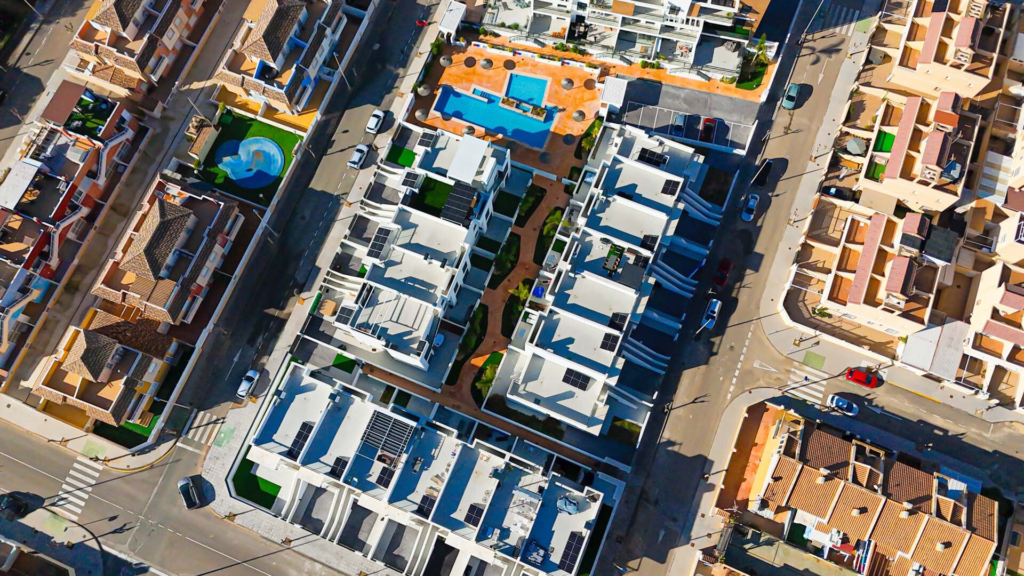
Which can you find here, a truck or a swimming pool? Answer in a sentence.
Looking from above, you can make out a swimming pool.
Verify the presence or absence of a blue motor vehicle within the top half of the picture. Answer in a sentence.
Yes, there is a blue motor vehicle within the top half of the picture.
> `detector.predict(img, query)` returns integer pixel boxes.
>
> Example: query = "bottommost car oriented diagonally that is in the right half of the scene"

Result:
[825,392,860,417]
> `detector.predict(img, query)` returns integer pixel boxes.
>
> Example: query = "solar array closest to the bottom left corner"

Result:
[282,430,307,462]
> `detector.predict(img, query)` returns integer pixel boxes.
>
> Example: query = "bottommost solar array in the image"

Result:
[552,528,585,576]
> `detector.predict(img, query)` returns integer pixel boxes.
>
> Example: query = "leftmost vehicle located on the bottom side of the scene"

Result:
[0,498,30,519]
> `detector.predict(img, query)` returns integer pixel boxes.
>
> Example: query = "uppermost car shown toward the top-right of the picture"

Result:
[782,83,800,111]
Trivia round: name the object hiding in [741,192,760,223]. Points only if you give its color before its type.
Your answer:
blue car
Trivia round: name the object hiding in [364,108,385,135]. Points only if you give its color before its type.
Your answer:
white car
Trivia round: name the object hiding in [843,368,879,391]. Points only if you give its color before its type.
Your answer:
red car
